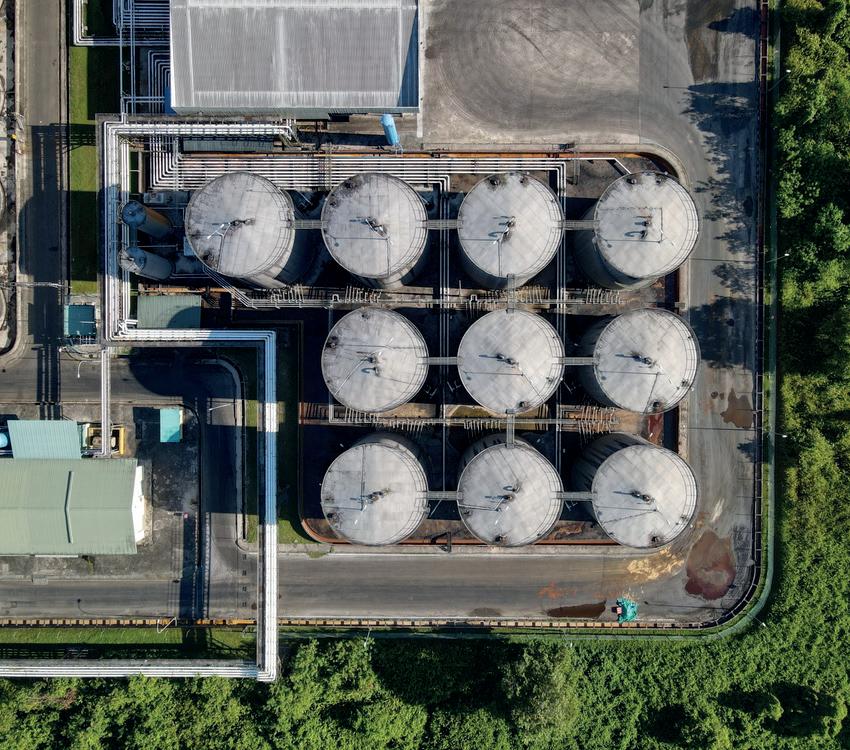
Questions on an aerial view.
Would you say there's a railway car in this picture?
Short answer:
No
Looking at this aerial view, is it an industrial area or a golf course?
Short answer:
industrial area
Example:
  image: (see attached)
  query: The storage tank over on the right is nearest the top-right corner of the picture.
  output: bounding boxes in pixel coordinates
[570,170,702,292]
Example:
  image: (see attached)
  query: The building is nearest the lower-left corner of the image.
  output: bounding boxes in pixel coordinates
[0,458,145,555]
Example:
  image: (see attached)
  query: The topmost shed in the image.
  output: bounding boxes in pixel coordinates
[165,0,418,122]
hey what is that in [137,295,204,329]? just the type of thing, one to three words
shed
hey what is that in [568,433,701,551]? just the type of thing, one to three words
storage tank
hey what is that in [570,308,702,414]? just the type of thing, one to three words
storage tank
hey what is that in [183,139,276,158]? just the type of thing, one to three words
shed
